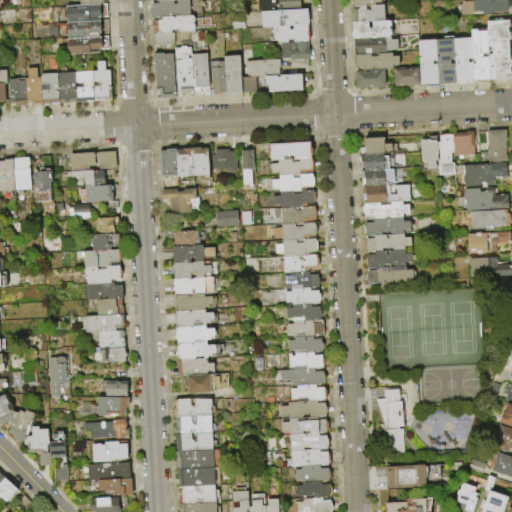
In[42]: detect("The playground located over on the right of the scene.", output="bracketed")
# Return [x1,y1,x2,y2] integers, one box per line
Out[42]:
[412,412,474,450]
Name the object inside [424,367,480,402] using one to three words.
basketball court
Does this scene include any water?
No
